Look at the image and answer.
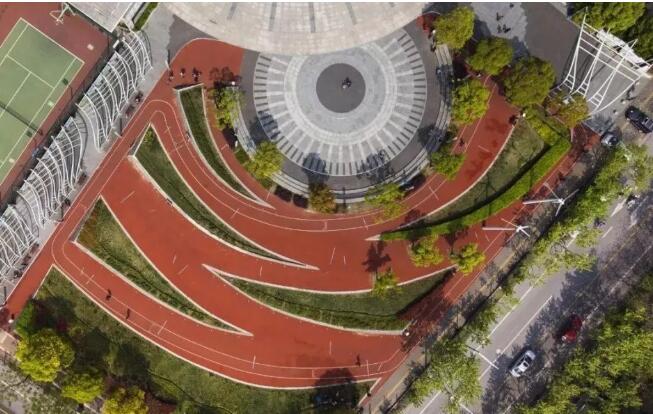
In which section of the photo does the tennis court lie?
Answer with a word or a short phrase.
top left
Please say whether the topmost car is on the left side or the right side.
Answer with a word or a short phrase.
right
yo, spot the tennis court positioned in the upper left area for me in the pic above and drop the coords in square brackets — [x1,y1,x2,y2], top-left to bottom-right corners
[0,0,117,209]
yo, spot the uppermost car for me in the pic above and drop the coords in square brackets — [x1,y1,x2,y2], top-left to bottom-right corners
[623,105,653,133]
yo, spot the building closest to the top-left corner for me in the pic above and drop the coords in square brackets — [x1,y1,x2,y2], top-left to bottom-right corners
[59,0,142,38]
